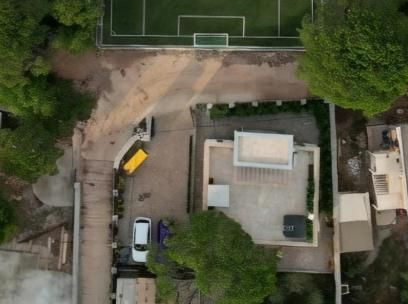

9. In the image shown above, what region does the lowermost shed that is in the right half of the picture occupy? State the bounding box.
[341,189,375,254]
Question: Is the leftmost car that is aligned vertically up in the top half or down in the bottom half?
bottom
